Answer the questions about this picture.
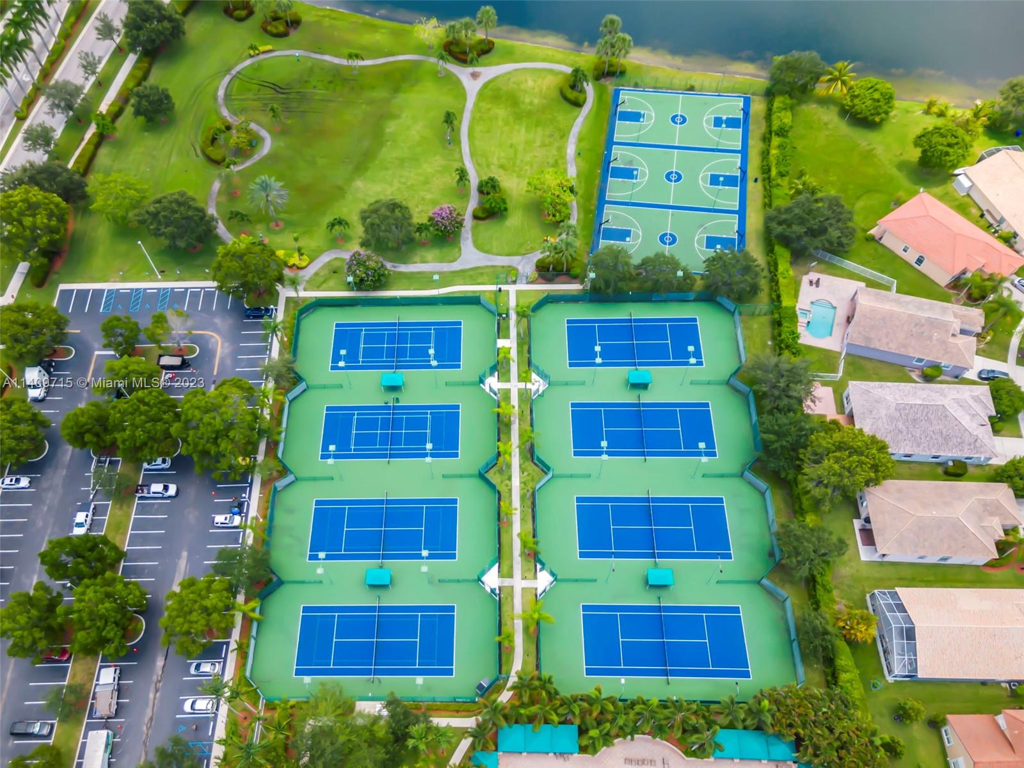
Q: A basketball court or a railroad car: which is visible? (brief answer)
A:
basketball court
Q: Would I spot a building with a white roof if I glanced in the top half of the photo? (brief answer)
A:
Yes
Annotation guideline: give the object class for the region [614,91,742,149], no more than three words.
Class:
basketball court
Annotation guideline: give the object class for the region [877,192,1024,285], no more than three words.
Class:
house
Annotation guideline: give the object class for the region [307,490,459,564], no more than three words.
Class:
tennis court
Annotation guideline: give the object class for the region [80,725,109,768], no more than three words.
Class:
trailer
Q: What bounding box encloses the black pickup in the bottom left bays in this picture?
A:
[9,720,53,737]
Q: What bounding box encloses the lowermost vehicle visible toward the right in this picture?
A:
[977,368,1009,382]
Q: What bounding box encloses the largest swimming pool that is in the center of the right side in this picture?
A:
[806,299,836,338]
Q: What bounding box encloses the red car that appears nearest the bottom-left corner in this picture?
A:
[39,647,71,662]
